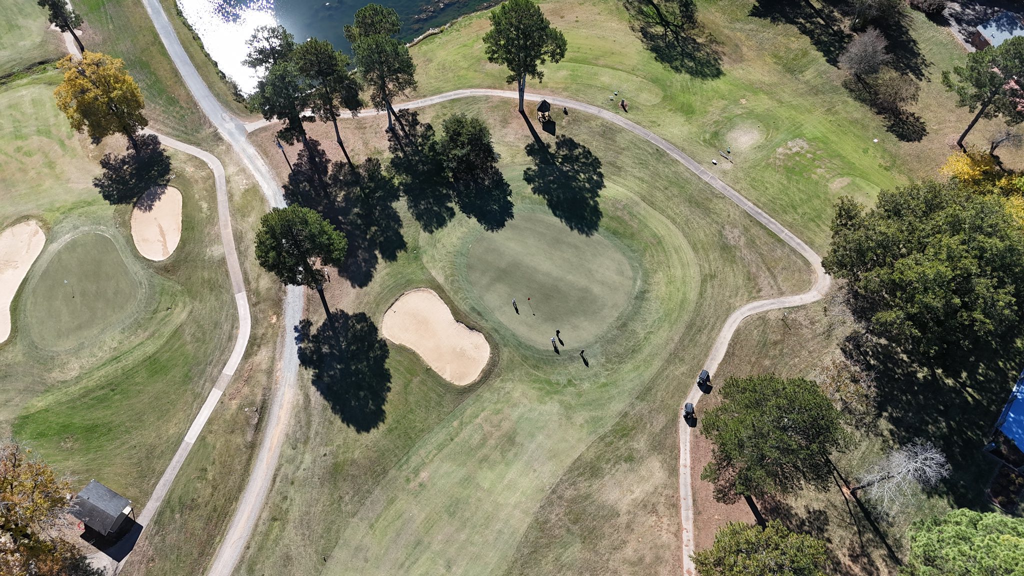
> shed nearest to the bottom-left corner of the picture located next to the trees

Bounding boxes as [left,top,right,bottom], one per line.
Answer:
[68,480,137,538]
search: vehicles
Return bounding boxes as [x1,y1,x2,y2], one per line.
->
[696,369,709,386]
[683,402,694,419]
